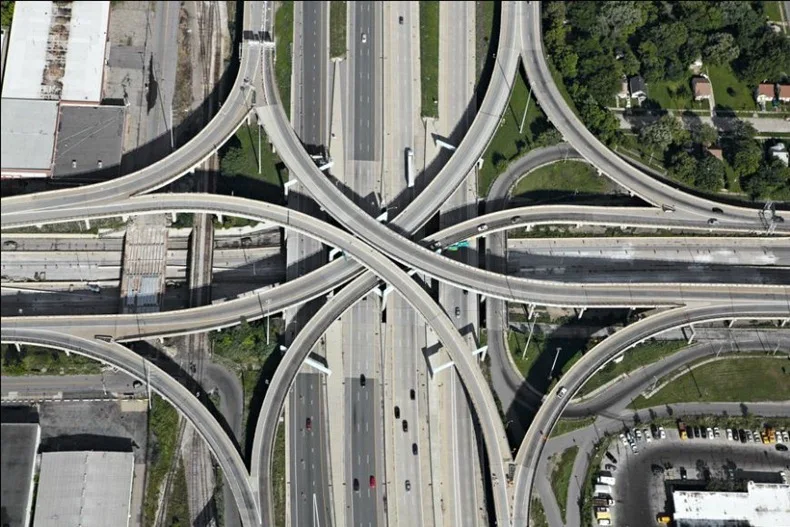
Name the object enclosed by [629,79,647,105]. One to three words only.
house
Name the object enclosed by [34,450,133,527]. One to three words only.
building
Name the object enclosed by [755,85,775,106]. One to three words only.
house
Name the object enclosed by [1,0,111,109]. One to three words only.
building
